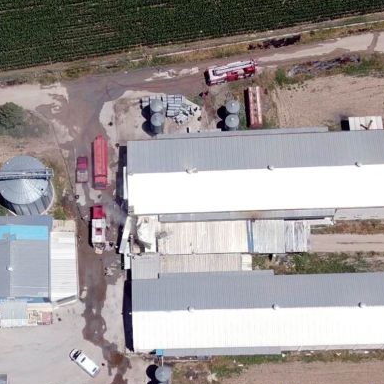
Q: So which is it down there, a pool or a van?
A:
van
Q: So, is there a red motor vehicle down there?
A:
Yes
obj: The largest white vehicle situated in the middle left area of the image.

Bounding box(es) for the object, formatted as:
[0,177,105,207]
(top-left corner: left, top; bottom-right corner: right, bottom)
[90,204,107,245]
